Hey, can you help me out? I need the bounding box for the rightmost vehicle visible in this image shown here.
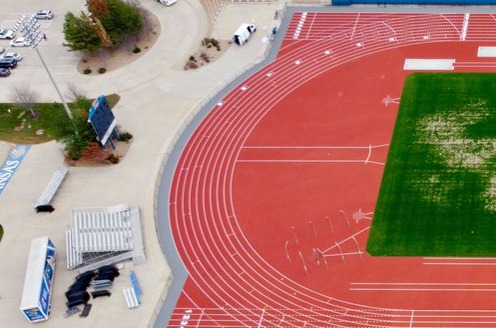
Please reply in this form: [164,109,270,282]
[228,27,257,48]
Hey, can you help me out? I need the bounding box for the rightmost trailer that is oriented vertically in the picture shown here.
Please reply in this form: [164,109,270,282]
[20,237,57,319]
